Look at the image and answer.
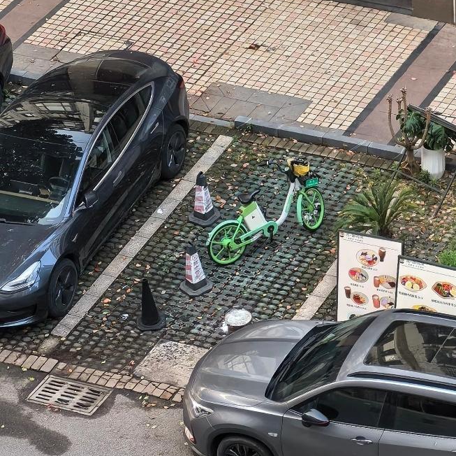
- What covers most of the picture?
paved ground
